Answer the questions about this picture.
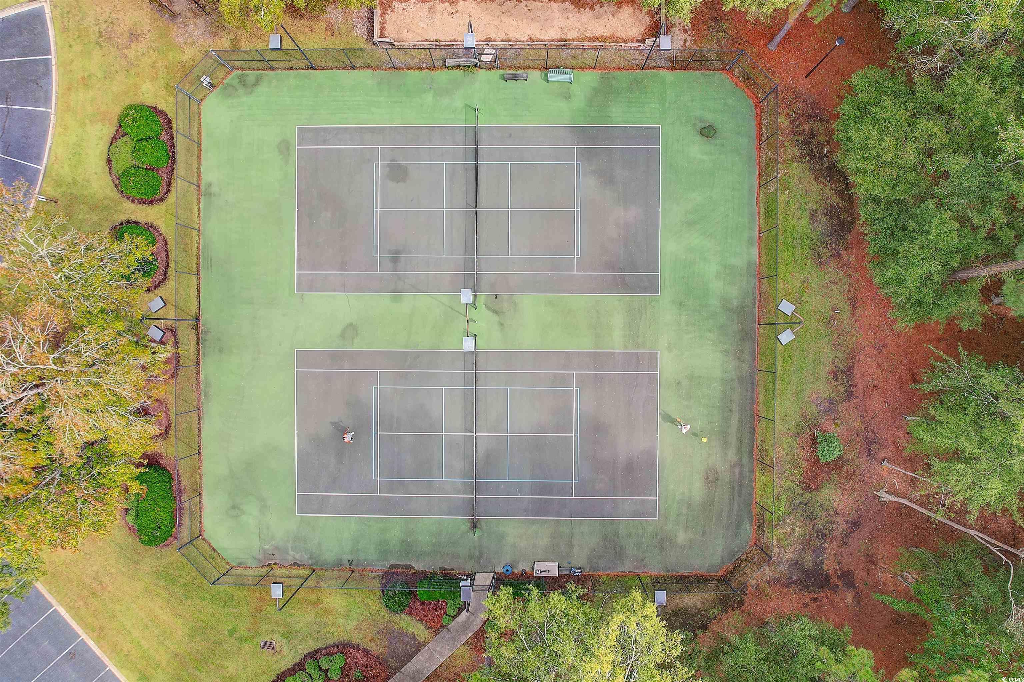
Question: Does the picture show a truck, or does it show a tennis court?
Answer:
tennis court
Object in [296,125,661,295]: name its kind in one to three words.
tennis court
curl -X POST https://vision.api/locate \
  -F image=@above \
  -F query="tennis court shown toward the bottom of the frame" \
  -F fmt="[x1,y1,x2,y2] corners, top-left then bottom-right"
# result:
[295,349,659,519]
